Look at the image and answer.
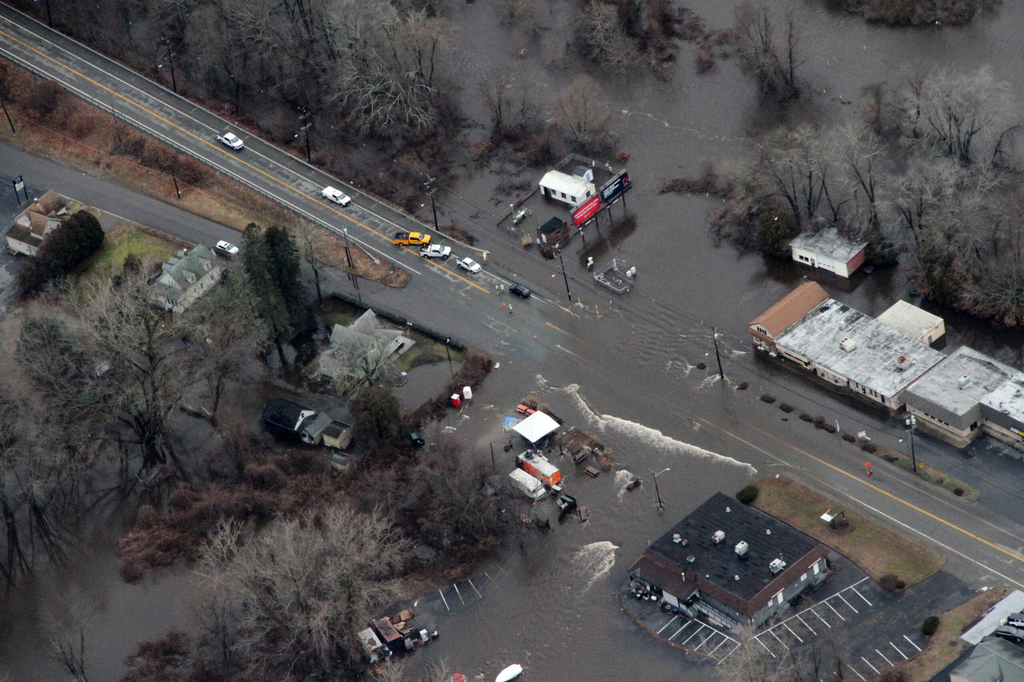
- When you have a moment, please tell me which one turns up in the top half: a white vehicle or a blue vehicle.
white vehicle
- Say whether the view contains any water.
Yes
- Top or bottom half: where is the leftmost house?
top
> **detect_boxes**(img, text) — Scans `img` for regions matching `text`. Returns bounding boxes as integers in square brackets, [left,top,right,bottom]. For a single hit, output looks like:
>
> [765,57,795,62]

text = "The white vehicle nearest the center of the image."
[453,255,481,274]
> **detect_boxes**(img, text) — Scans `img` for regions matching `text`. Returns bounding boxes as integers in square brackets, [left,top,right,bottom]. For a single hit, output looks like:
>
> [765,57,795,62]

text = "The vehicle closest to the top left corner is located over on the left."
[215,132,243,150]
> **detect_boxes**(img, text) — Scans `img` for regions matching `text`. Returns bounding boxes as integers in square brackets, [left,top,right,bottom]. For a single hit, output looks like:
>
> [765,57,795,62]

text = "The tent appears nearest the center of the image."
[513,412,561,453]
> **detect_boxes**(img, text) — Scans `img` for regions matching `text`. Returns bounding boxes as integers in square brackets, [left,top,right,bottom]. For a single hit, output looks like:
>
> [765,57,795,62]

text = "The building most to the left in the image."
[4,182,90,258]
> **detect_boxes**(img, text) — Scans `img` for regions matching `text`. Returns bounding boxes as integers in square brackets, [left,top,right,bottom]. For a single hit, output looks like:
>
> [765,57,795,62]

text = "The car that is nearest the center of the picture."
[506,283,532,299]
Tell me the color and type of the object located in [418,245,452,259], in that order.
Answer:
white vehicle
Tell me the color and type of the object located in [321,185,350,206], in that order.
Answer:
white truck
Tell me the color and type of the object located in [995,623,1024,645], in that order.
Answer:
gray car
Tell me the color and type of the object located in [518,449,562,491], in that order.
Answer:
white trailer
